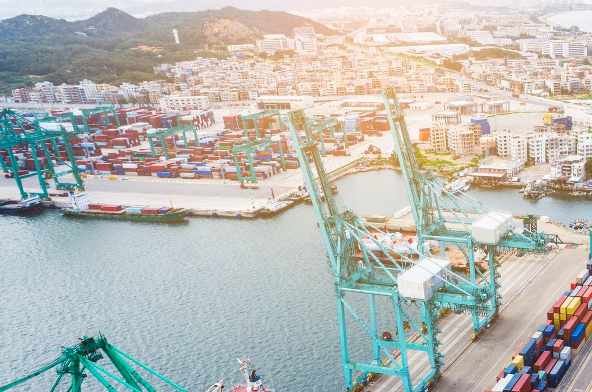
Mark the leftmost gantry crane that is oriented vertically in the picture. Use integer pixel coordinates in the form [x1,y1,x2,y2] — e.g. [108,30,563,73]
[0,114,31,196]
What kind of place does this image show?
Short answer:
port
